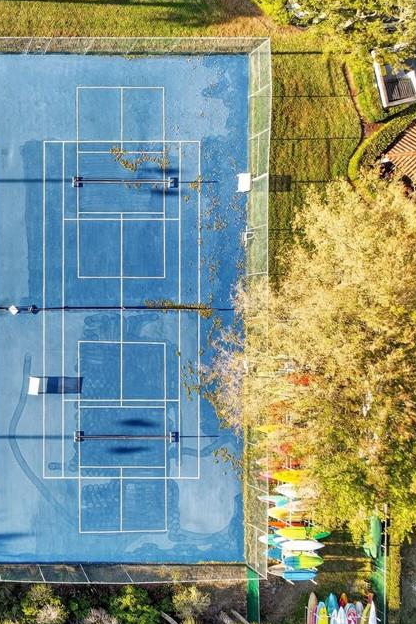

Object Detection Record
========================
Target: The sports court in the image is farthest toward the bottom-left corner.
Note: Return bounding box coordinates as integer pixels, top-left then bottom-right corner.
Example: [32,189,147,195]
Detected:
[79,341,167,532]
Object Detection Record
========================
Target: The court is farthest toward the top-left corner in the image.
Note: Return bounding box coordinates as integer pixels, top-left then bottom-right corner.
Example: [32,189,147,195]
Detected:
[77,87,165,278]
